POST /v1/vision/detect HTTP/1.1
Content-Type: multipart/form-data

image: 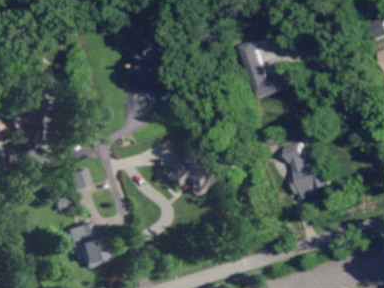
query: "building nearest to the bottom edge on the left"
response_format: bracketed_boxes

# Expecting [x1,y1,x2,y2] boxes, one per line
[68,223,113,270]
